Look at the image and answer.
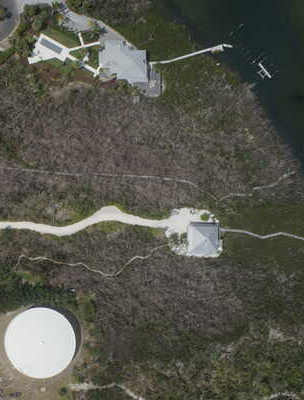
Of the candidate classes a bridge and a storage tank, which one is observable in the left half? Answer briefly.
storage tank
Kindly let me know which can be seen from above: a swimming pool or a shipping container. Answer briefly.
swimming pool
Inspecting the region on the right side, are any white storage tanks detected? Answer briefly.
No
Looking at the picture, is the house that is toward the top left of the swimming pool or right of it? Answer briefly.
to its right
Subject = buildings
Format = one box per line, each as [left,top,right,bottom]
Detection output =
[185,223,220,256]
[99,39,160,95]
